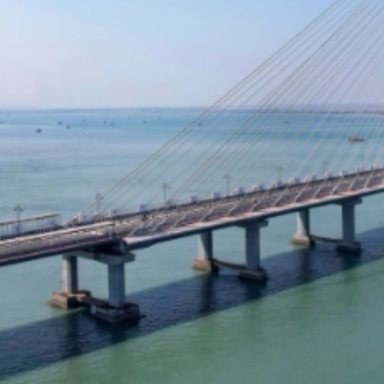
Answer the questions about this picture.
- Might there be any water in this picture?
Yes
